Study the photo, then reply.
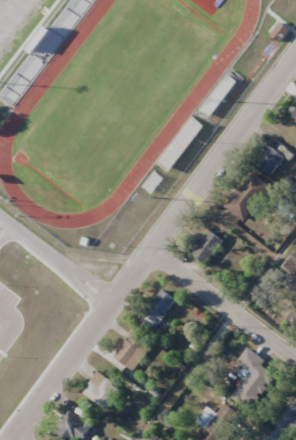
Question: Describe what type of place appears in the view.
sports ground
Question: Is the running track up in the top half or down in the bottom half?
top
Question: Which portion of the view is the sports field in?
top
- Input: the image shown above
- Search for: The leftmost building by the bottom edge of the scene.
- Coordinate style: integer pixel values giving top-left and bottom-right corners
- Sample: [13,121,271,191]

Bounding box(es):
[56,410,90,439]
